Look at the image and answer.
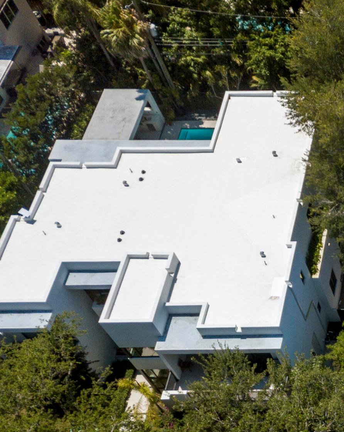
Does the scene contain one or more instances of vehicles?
No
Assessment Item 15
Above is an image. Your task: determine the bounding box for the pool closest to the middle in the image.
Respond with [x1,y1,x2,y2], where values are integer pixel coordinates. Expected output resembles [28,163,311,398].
[174,126,217,141]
